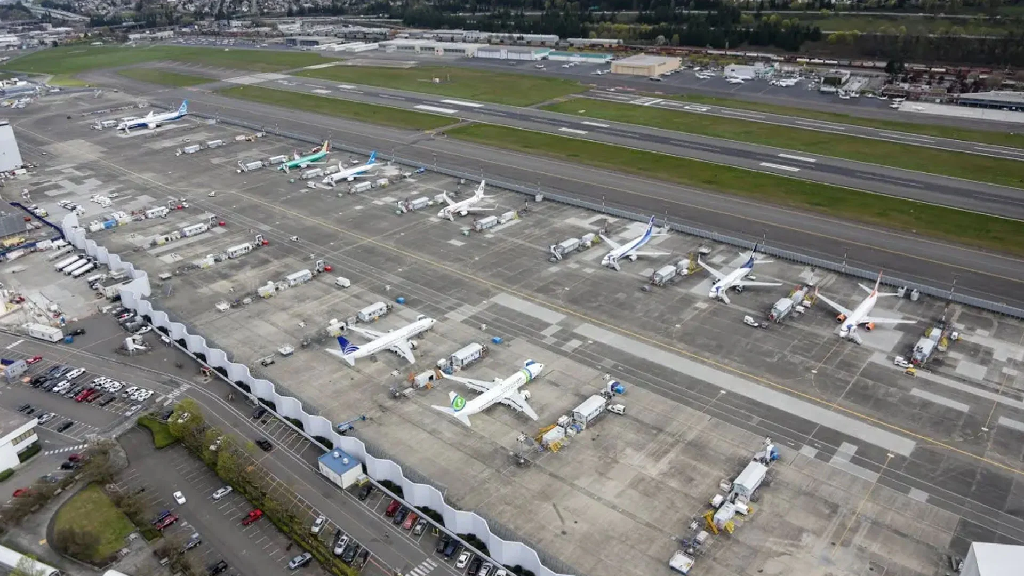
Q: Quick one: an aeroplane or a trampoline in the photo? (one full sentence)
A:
This aerial view contains an aeroplane.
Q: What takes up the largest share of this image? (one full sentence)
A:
Most of the picture is covered by paved ground.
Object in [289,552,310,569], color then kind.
gray car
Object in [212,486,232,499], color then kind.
gray vehicle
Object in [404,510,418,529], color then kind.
red car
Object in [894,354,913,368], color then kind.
white vehicle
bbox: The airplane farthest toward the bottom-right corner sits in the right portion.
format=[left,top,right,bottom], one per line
[814,274,915,338]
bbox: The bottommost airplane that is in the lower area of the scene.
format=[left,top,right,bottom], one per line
[443,363,543,425]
